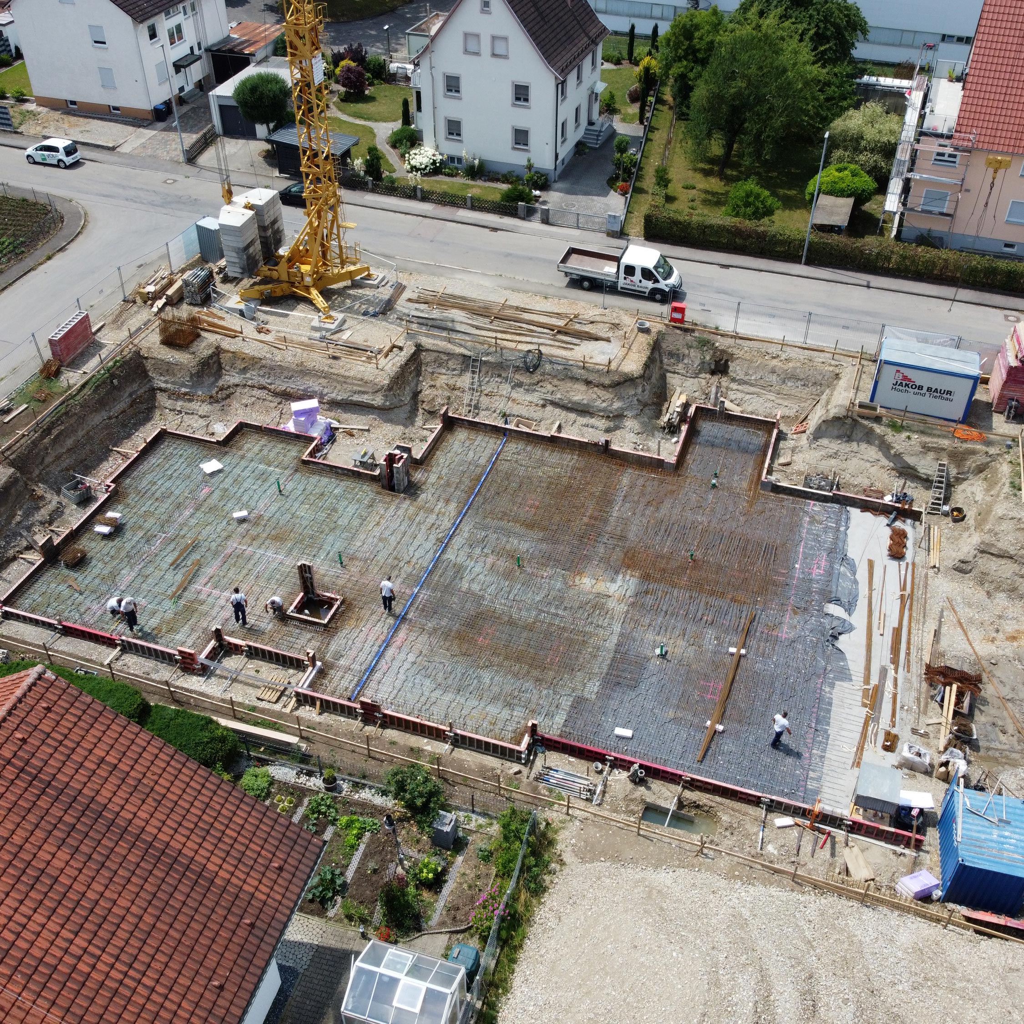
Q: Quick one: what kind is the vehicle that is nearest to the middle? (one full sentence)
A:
I'd identify the vehicle that is nearest to the middle as a truck.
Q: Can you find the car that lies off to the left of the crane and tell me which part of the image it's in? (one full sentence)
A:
The car that lies off to the left of the crane is in the top left part of the image.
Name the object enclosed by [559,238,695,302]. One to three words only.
truck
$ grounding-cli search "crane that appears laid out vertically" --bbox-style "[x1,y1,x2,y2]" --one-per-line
[237,0,377,325]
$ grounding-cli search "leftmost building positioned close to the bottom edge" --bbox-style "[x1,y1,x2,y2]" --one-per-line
[0,665,334,1024]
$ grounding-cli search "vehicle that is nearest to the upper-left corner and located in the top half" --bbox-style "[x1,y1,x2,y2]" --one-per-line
[21,137,82,168]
